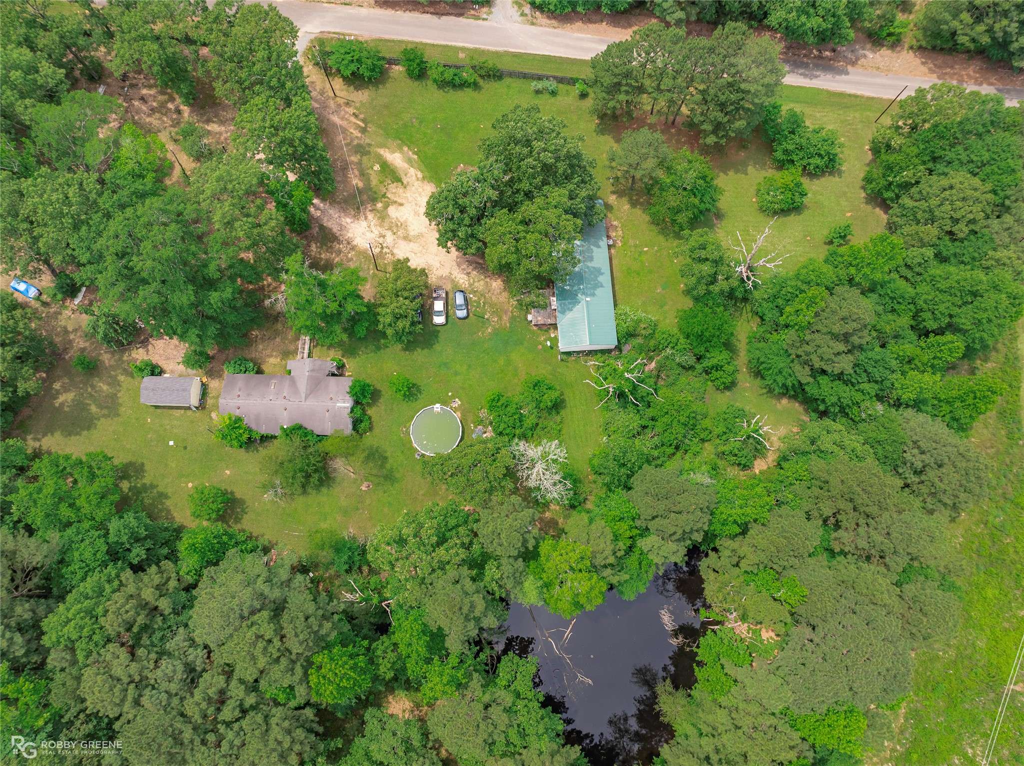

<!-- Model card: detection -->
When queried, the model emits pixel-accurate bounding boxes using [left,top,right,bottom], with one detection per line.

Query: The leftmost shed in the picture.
[140,376,201,407]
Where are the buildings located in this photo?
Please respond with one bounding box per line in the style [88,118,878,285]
[553,200,618,350]
[220,359,355,435]
[140,376,201,407]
